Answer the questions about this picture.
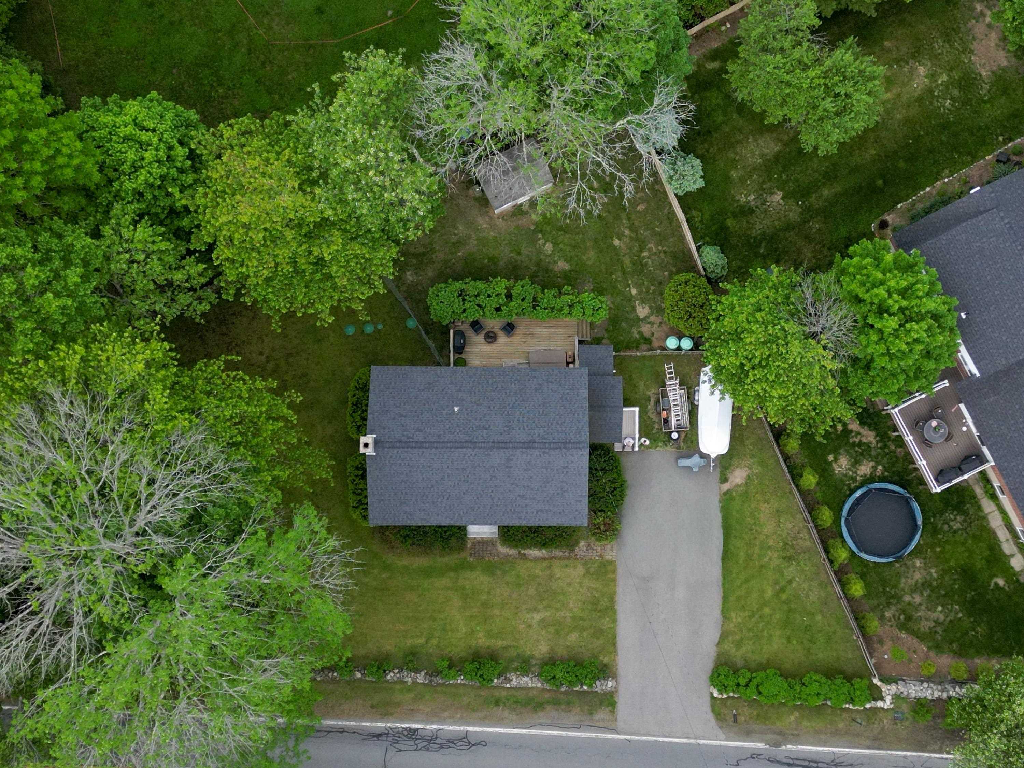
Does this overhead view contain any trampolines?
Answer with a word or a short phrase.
Yes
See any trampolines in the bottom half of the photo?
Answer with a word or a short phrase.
Yes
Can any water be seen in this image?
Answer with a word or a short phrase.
No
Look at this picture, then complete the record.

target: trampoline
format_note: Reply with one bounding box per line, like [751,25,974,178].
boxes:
[838,482,923,563]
